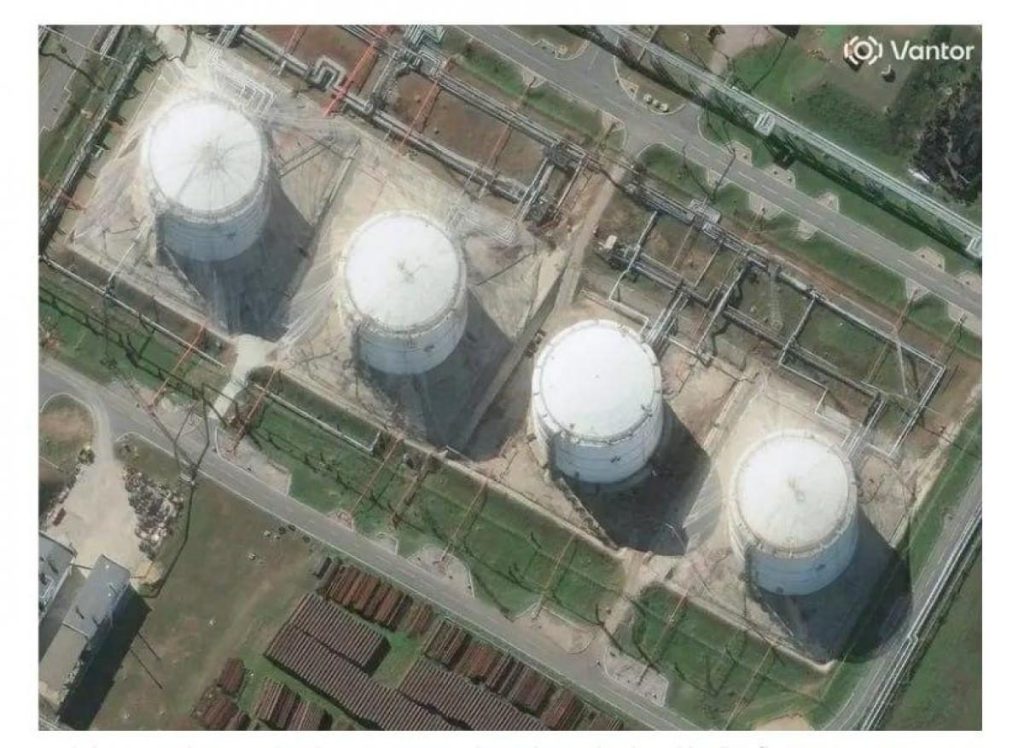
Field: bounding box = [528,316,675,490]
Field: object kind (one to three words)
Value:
storage tank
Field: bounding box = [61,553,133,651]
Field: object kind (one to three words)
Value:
building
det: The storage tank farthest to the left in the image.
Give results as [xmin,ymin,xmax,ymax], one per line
[136,96,280,264]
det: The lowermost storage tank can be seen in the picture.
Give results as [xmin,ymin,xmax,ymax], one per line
[728,429,871,602]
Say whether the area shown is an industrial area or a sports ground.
industrial area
